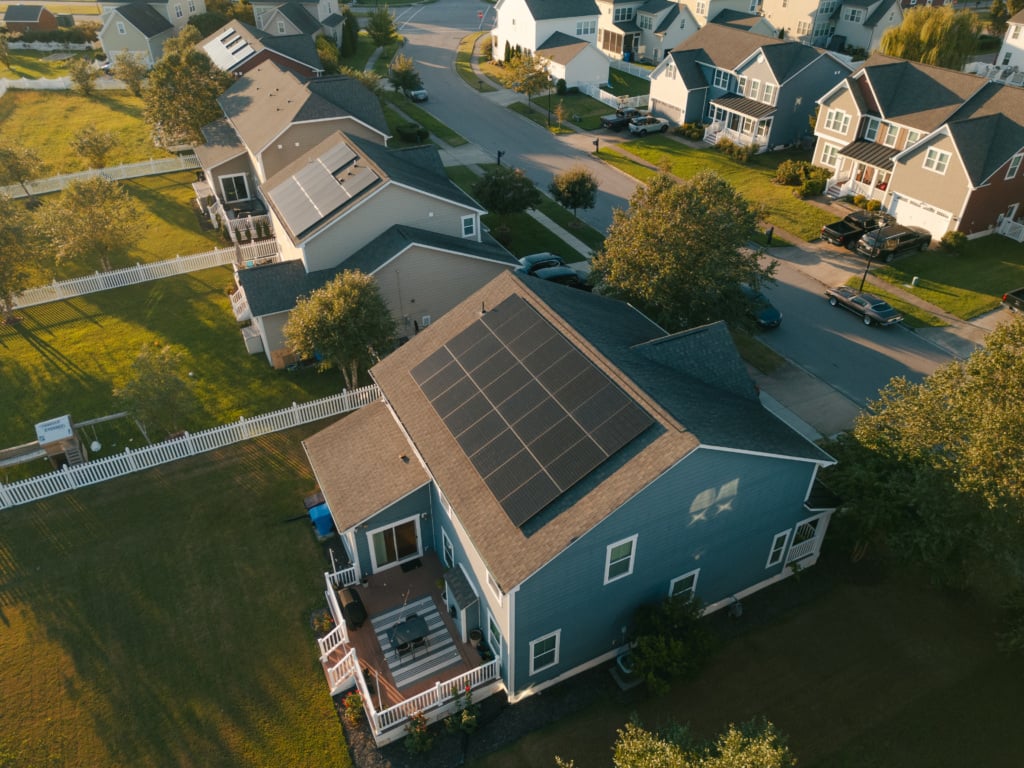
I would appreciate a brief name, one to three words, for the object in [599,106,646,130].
truck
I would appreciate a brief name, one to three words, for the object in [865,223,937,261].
car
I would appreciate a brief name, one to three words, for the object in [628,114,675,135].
car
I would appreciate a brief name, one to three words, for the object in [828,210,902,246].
truck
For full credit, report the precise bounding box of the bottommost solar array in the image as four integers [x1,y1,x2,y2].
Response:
[413,294,654,524]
